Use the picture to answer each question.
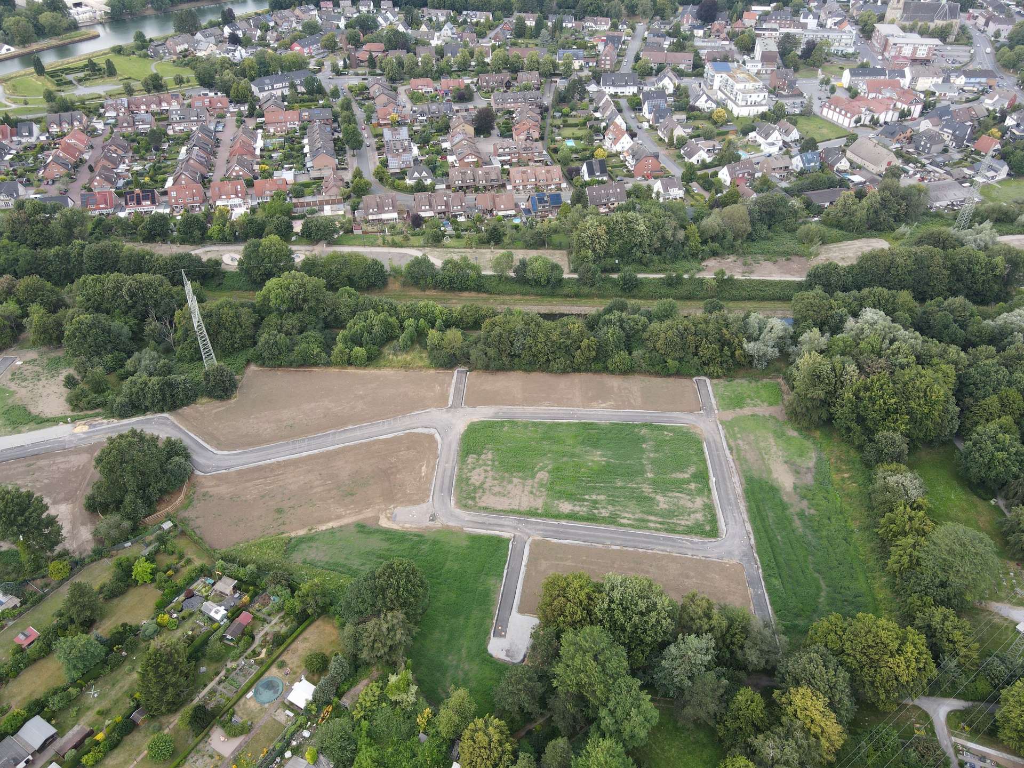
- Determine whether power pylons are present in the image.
Yes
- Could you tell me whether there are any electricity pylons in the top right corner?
Yes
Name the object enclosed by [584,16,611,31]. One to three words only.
house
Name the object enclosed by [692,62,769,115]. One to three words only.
building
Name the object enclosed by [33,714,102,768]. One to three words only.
shed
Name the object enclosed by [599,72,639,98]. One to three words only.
house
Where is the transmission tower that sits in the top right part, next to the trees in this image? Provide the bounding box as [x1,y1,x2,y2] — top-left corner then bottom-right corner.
[953,142,1005,224]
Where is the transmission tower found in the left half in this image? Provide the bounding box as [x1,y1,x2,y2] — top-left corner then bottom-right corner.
[182,272,221,372]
